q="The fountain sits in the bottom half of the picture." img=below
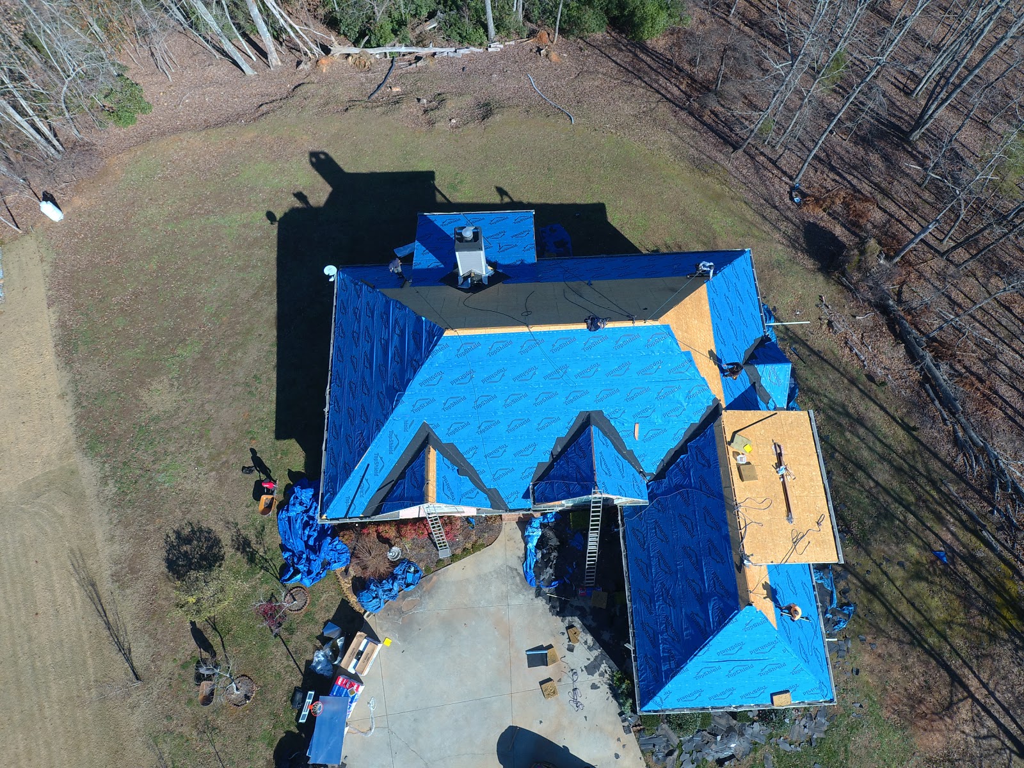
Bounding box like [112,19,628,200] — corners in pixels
[384,545,400,561]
